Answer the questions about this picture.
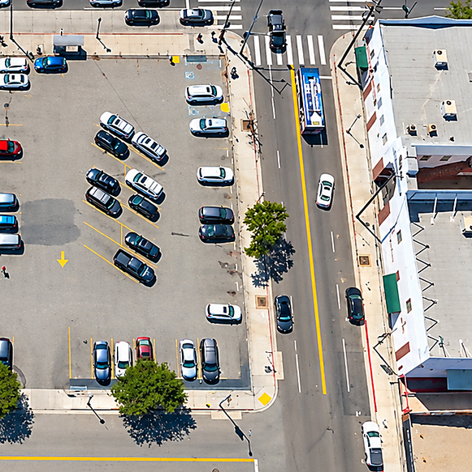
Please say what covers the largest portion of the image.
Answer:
paved ground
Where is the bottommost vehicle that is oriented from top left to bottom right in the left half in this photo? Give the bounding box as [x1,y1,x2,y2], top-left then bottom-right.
[112,249,156,286]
